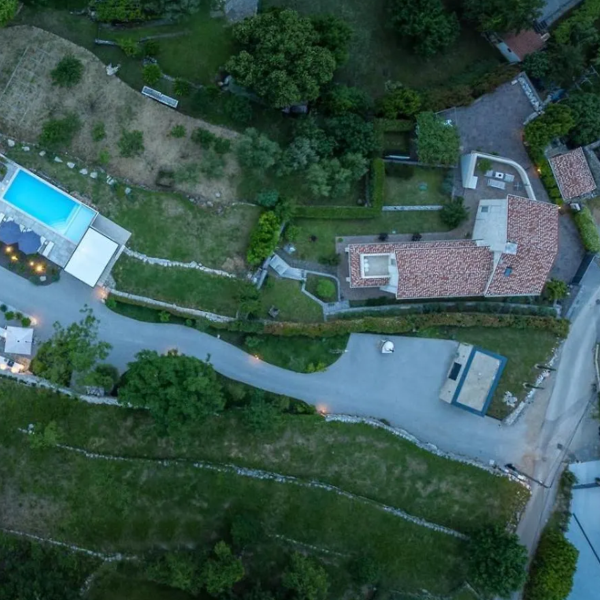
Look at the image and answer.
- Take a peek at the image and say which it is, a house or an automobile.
house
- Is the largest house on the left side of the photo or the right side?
right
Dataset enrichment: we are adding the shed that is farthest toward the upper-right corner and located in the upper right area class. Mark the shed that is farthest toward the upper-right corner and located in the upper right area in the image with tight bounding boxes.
[489,12,551,62]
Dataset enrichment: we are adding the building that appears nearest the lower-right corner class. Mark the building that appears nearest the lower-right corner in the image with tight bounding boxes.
[428,341,507,417]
